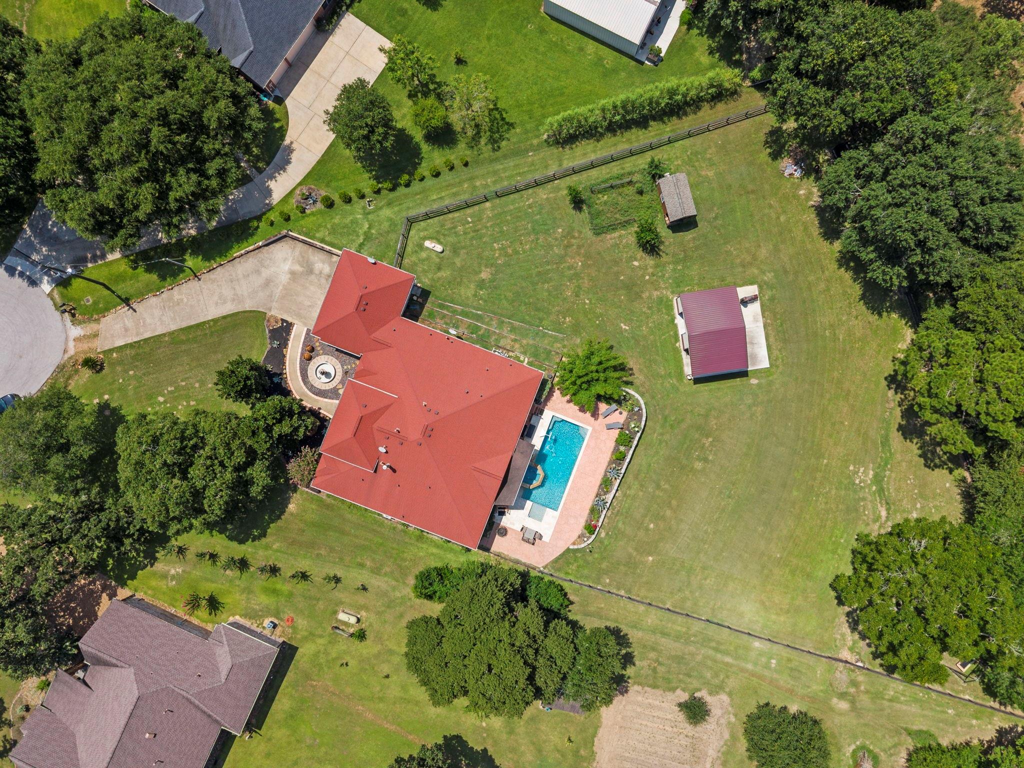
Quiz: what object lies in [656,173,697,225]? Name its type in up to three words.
shed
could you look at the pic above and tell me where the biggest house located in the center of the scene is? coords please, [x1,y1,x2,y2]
[310,248,545,551]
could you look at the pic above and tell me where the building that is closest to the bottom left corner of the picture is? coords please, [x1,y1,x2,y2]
[5,597,282,768]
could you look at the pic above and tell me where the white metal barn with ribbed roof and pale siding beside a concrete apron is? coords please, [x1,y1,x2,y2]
[546,0,661,57]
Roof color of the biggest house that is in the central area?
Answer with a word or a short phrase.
red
